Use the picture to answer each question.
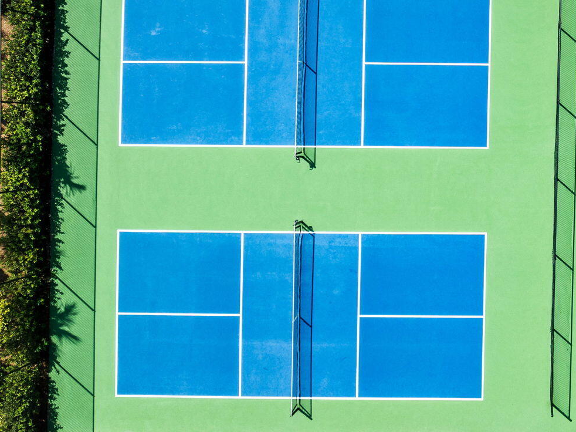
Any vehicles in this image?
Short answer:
No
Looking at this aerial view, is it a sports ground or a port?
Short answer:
sports ground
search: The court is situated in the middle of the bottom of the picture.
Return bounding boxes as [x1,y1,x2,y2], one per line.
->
[115,230,484,400]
